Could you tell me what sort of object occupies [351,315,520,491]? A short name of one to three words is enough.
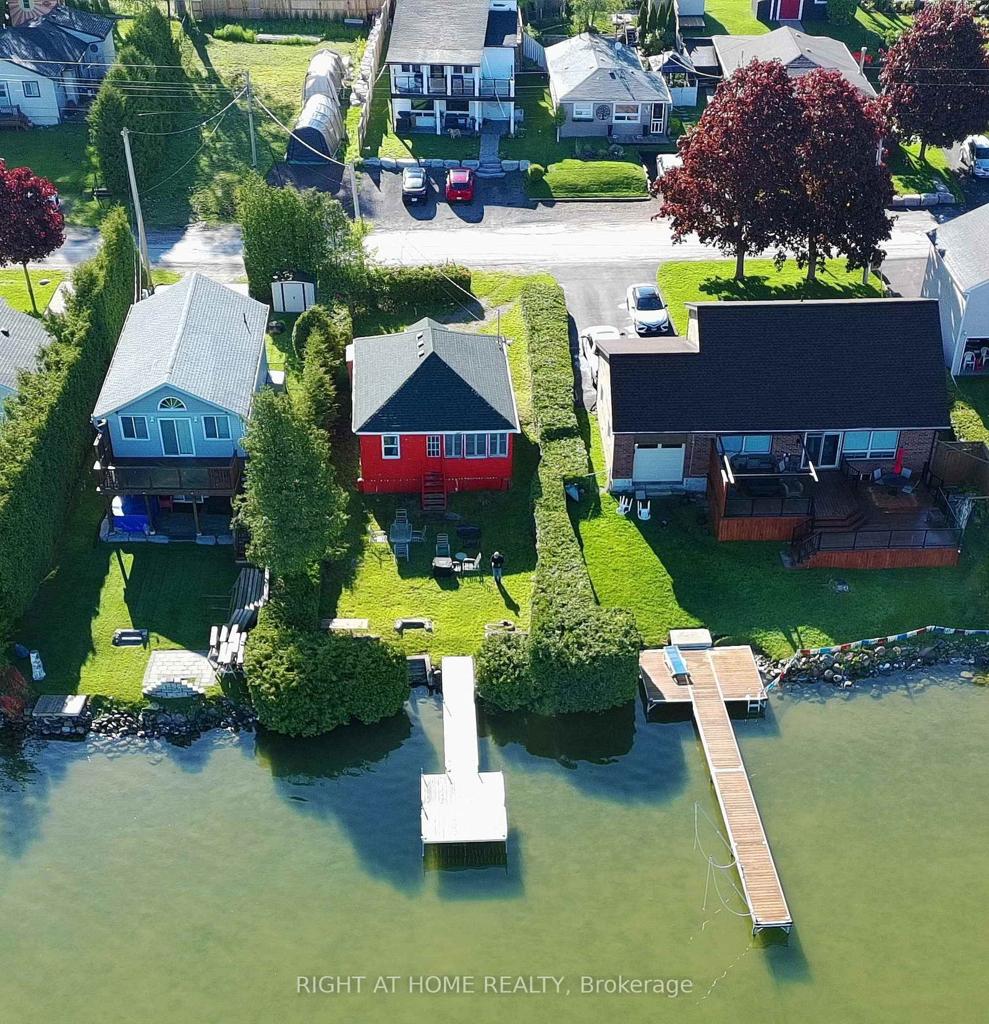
house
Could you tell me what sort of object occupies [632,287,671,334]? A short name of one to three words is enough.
car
